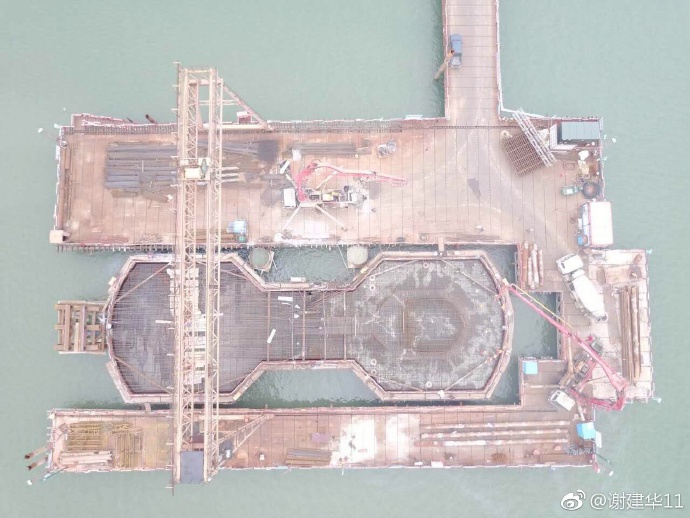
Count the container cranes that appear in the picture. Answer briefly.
1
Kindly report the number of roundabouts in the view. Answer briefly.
0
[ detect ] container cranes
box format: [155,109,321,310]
[168,61,270,495]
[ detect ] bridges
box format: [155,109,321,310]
[443,0,502,121]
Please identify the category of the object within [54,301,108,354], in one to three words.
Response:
pier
